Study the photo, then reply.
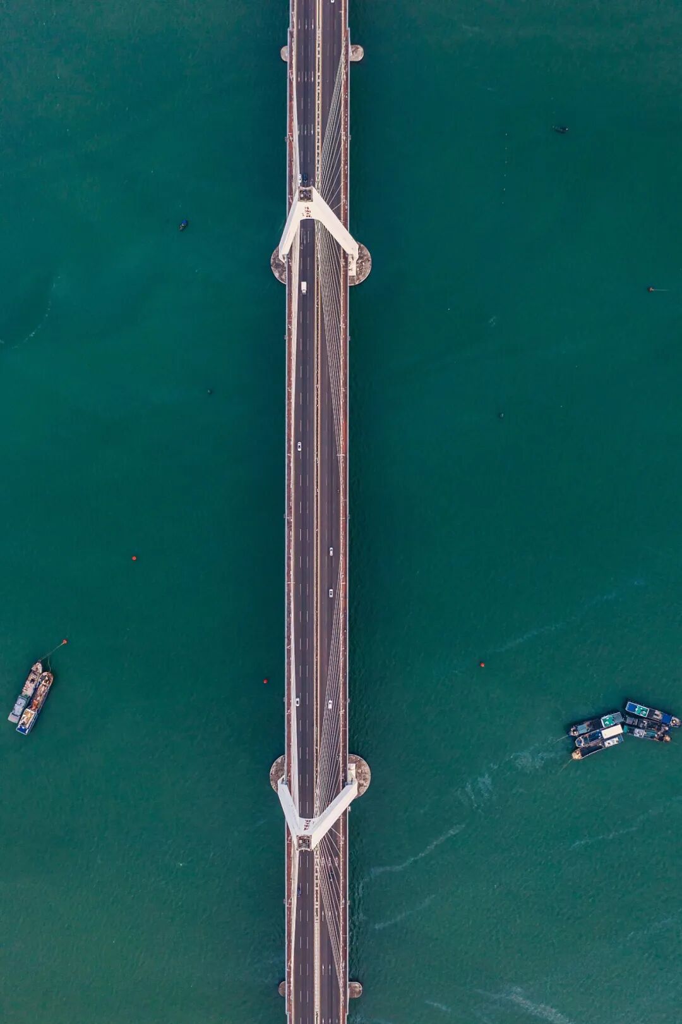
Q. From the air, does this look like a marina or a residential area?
marina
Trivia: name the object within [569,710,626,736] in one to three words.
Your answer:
boat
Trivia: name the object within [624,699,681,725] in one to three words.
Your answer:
boat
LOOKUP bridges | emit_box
[270,0,372,1024]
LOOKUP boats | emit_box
[569,710,626,736]
[17,671,53,735]
[623,726,671,744]
[571,736,626,759]
[624,699,681,725]
[6,660,43,723]
[178,221,188,232]
[624,713,669,734]
[574,723,627,745]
